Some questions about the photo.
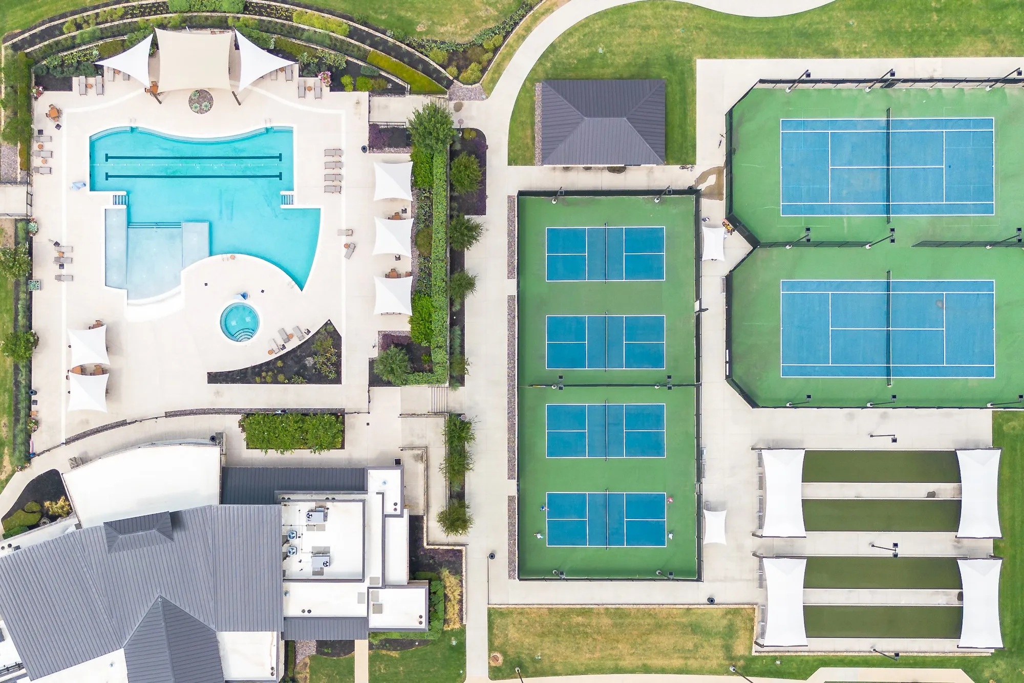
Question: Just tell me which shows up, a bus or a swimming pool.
swimming pool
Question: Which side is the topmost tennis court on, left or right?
right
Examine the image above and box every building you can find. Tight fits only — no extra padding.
[541,78,666,168]
[0,433,430,683]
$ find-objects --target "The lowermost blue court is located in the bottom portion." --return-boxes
[546,492,665,547]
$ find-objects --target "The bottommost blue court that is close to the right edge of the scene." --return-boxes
[781,280,995,378]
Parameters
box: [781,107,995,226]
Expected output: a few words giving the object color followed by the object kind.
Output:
blue tennis court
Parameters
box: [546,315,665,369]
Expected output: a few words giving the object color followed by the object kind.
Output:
blue sports court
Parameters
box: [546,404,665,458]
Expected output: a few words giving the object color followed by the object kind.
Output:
blue sports court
